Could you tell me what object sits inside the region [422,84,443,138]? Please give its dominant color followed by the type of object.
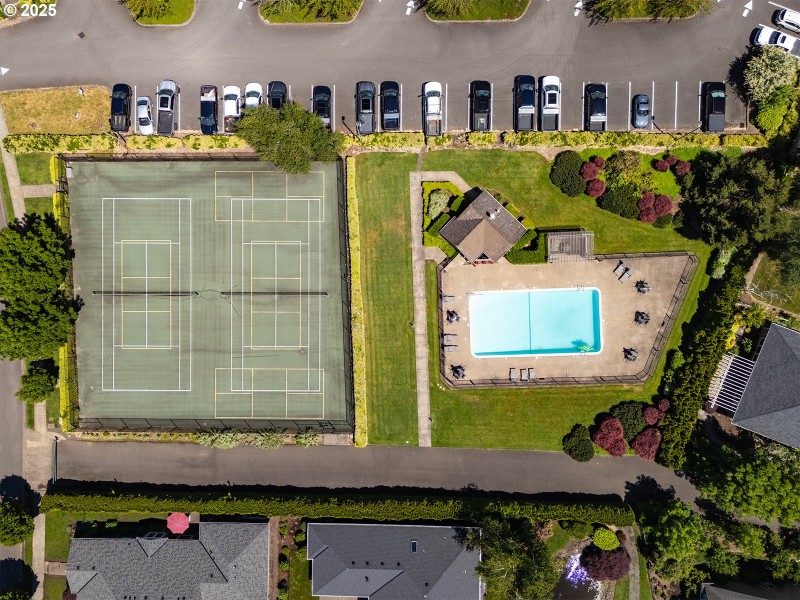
white truck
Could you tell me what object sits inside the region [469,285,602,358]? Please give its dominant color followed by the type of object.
white swimming pool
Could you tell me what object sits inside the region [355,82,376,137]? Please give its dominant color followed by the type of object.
gray truck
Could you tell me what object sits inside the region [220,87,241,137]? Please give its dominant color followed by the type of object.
white truck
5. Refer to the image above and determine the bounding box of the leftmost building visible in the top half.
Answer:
[442,190,527,265]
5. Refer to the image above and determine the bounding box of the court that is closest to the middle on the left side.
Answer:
[197,162,352,427]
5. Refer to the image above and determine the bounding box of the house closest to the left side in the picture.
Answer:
[64,517,270,600]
